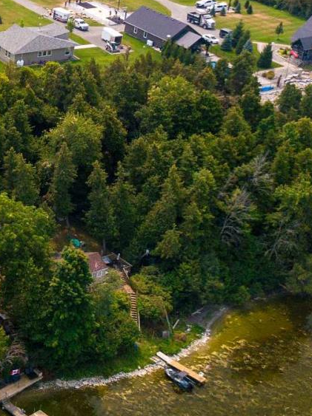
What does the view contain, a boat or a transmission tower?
boat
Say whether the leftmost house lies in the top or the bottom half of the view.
top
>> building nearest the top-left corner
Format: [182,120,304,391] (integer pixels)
[0,21,77,65]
